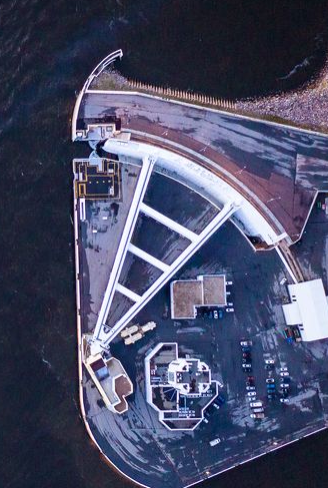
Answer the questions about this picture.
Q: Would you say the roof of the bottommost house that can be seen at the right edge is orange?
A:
No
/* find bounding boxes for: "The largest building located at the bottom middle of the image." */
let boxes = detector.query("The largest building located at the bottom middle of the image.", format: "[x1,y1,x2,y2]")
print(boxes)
[145,344,223,429]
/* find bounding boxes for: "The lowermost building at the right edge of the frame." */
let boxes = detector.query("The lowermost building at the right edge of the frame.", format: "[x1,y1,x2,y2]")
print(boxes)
[277,278,328,342]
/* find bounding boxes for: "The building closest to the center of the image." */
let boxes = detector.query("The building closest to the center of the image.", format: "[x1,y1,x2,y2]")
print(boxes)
[171,275,226,318]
